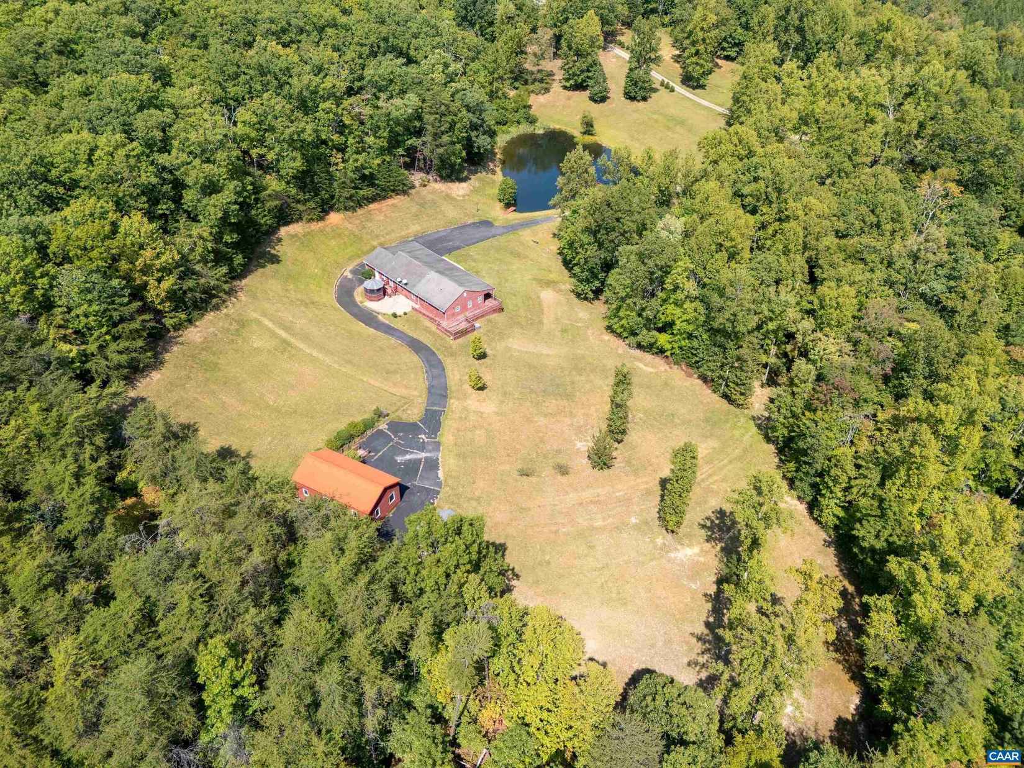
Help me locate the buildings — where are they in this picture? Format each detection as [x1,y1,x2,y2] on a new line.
[293,448,401,522]
[363,241,495,322]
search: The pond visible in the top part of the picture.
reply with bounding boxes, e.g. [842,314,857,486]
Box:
[495,130,627,215]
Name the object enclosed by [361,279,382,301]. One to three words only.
gazebo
